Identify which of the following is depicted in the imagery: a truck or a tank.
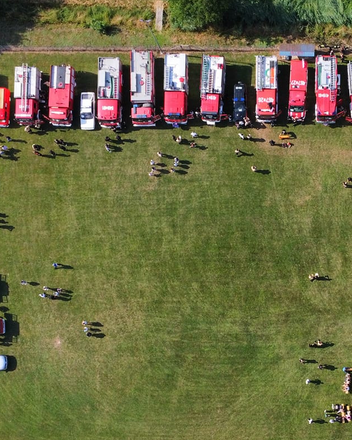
truck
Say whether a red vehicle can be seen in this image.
Yes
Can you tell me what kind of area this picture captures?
sports ground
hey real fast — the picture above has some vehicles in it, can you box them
[343,60,352,126]
[229,85,248,124]
[12,62,47,125]
[0,88,12,127]
[0,355,9,370]
[287,59,307,121]
[163,53,195,125]
[79,92,96,130]
[254,52,284,121]
[313,55,343,124]
[129,49,163,126]
[43,65,77,126]
[97,57,125,128]
[198,51,229,127]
